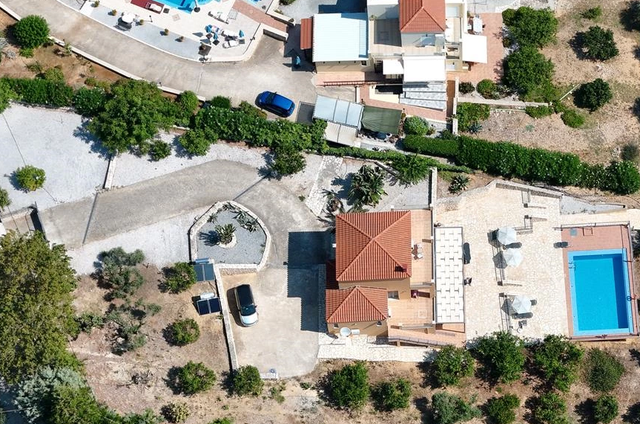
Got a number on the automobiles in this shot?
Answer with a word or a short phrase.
2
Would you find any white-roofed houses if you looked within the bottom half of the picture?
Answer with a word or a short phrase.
No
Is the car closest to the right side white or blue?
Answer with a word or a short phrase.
blue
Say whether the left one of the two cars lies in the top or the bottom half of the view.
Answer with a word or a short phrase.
bottom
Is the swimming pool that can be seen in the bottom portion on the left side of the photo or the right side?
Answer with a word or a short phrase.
right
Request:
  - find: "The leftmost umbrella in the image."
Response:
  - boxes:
[118,8,139,29]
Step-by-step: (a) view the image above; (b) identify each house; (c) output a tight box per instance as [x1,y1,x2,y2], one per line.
[325,209,466,351]
[300,0,487,110]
